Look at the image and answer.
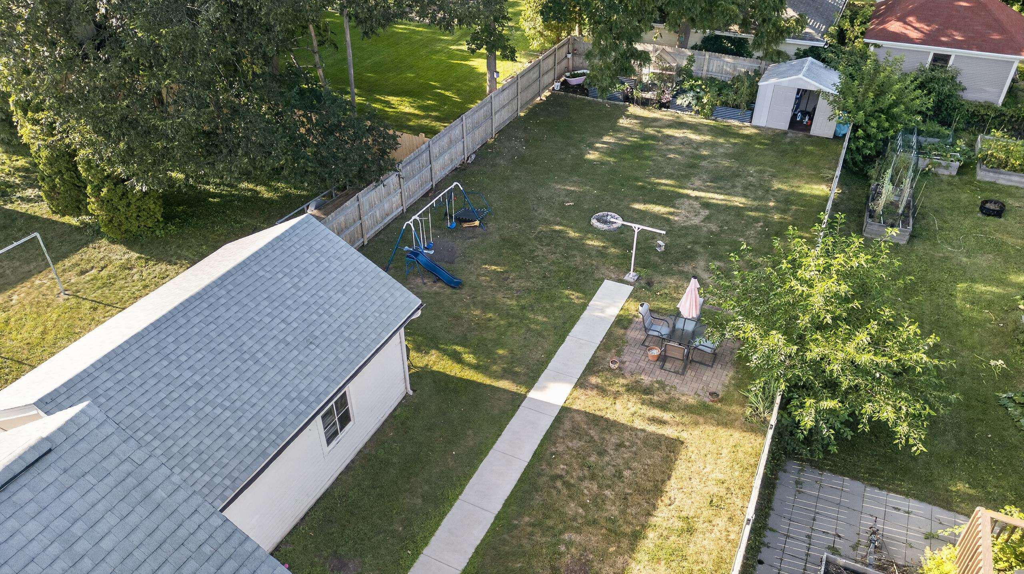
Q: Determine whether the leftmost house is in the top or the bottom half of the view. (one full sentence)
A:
Seen from above, the leftmost house lies in the bottom half of the view.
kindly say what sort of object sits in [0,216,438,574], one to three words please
house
